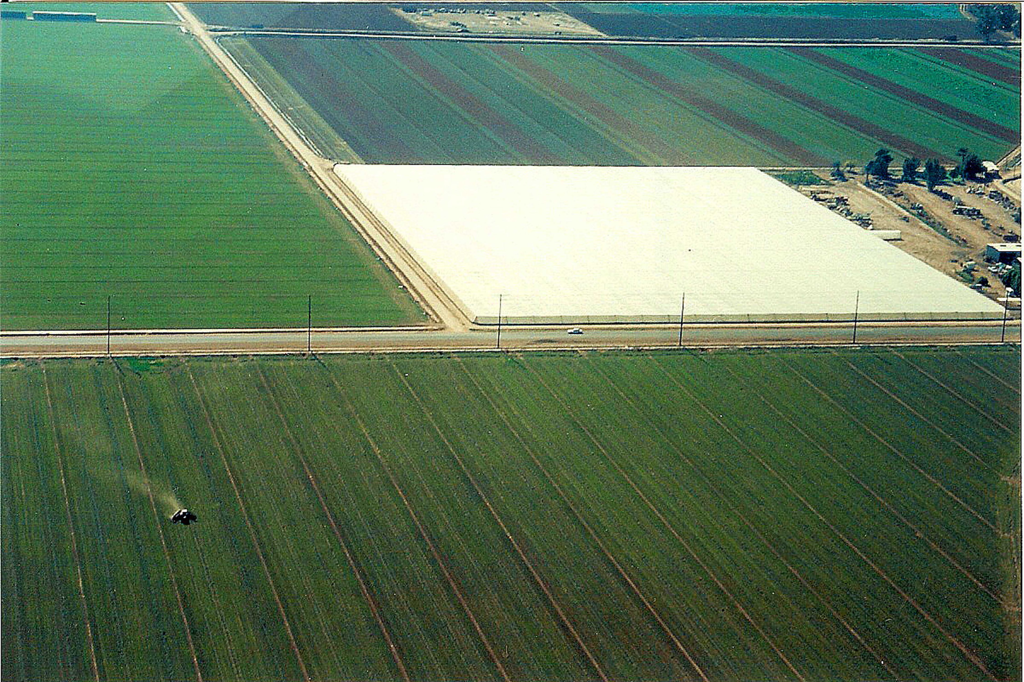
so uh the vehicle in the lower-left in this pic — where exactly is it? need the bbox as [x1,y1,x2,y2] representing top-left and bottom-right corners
[167,511,195,526]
